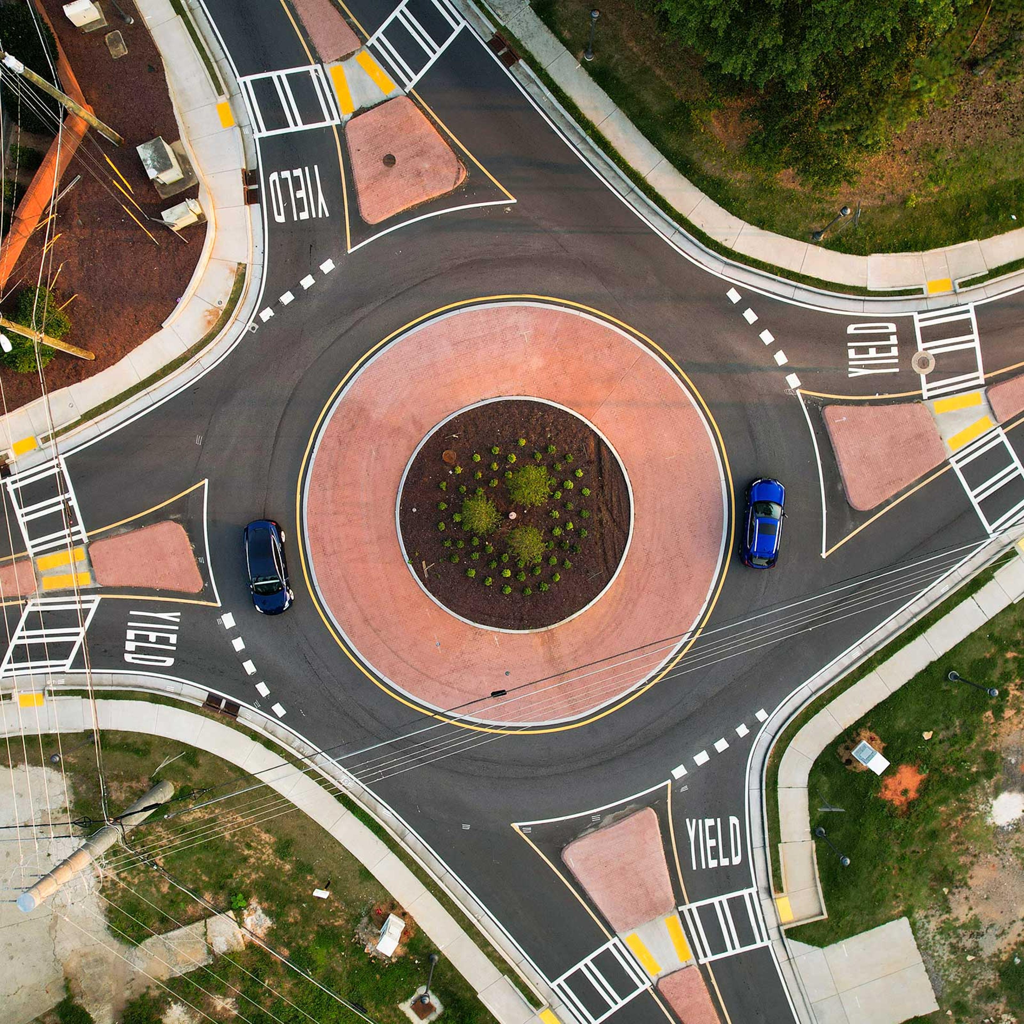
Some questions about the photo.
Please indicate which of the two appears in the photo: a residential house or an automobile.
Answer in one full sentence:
There is an automobile in the scene.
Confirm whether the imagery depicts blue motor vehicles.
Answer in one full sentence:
Yes, the image includes a blue motor vehicle.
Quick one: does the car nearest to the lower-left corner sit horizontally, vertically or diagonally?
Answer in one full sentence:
In this picture, the car nearest to the lower-left corner lies vertically.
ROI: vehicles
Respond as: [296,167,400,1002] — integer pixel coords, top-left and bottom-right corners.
[244,520,293,615]
[739,478,790,569]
